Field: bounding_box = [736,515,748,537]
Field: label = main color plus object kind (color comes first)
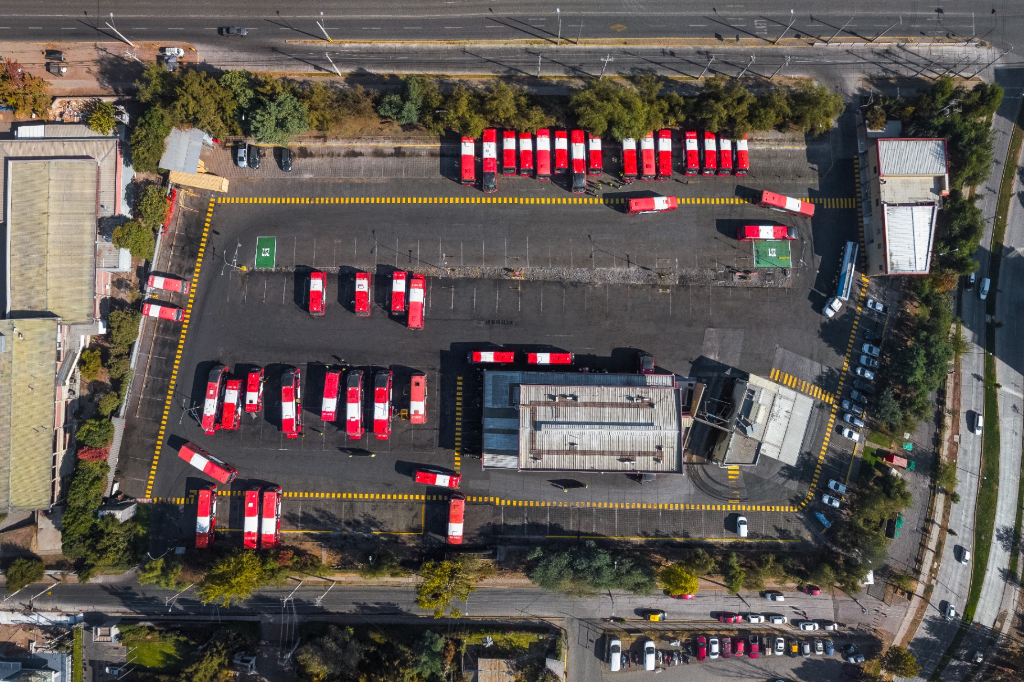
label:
white vehicle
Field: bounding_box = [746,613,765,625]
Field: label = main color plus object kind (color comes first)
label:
white vehicle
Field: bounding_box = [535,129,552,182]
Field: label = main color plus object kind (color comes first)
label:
red vehicle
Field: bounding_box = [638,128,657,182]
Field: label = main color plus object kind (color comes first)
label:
red vehicle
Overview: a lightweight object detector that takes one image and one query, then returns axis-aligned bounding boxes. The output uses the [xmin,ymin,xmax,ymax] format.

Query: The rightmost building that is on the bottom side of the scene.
[715,373,817,467]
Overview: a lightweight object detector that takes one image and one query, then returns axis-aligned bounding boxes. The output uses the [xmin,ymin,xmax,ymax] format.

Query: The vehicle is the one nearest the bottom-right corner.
[968,647,986,666]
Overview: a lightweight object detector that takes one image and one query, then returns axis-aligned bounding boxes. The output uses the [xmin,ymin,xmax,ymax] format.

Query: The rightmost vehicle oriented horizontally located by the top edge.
[222,25,249,38]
